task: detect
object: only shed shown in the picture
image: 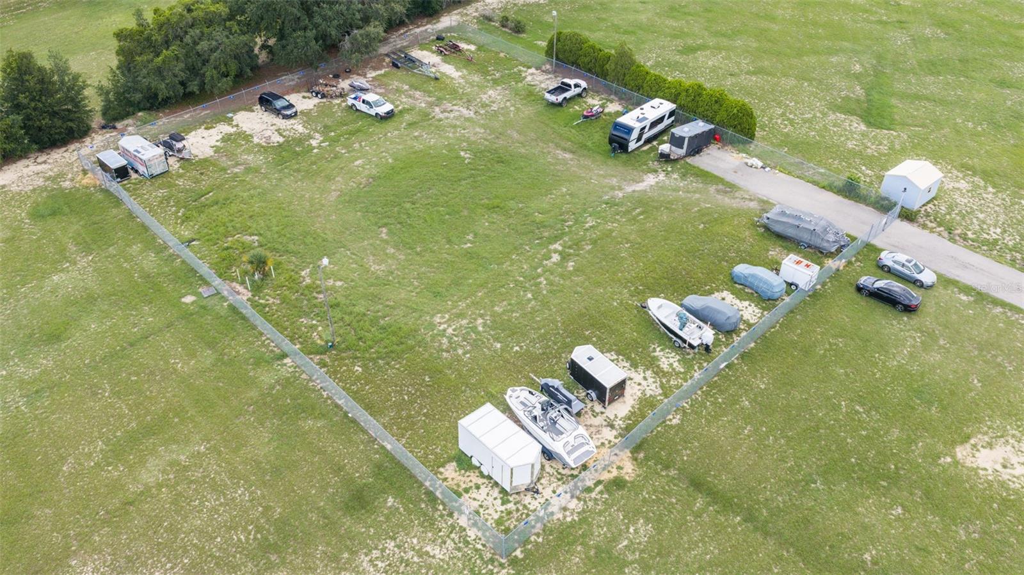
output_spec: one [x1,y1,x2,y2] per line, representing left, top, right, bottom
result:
[880,160,944,208]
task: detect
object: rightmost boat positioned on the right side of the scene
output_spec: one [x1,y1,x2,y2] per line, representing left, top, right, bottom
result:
[760,207,848,258]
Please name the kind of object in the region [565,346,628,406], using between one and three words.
trailer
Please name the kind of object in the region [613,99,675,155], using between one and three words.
camper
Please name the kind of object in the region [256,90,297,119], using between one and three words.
car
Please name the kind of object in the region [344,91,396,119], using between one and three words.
truck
